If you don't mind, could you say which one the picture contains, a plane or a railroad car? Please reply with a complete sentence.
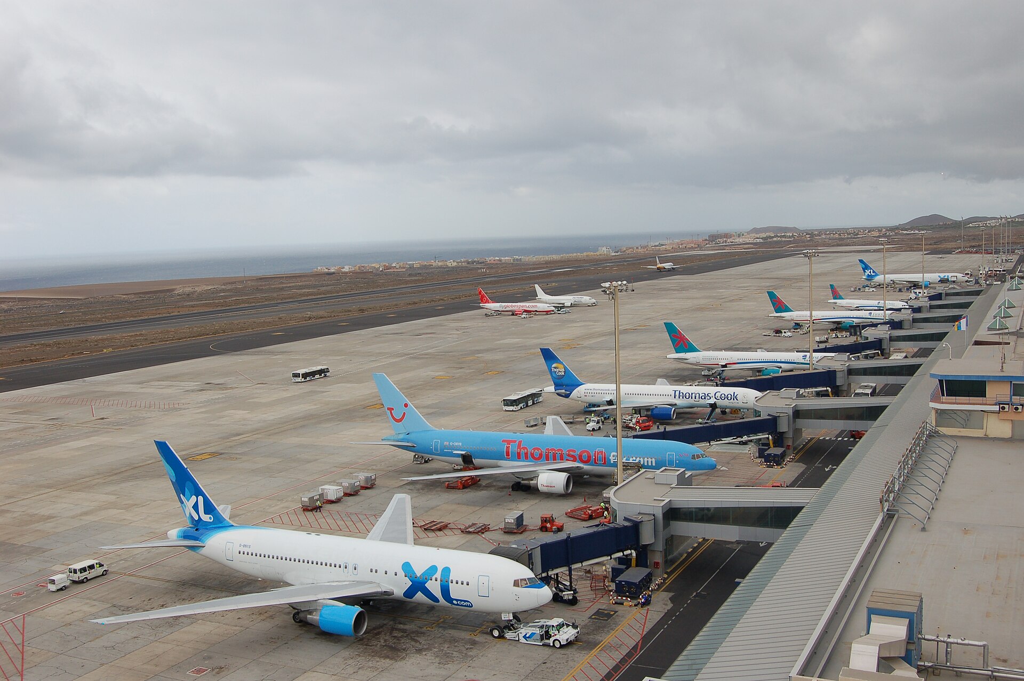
The image shows a plane.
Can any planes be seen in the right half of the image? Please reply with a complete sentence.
Yes, in the right half of the image there is a plane.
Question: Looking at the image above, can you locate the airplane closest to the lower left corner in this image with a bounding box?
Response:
[81,440,554,636]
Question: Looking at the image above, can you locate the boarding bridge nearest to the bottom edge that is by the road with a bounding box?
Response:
[498,514,658,608]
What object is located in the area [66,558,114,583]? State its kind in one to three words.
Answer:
vehicle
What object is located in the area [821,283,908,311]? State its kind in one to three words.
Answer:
airplane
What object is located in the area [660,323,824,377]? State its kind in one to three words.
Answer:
airplane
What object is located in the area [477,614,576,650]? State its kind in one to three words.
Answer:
work vehicle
